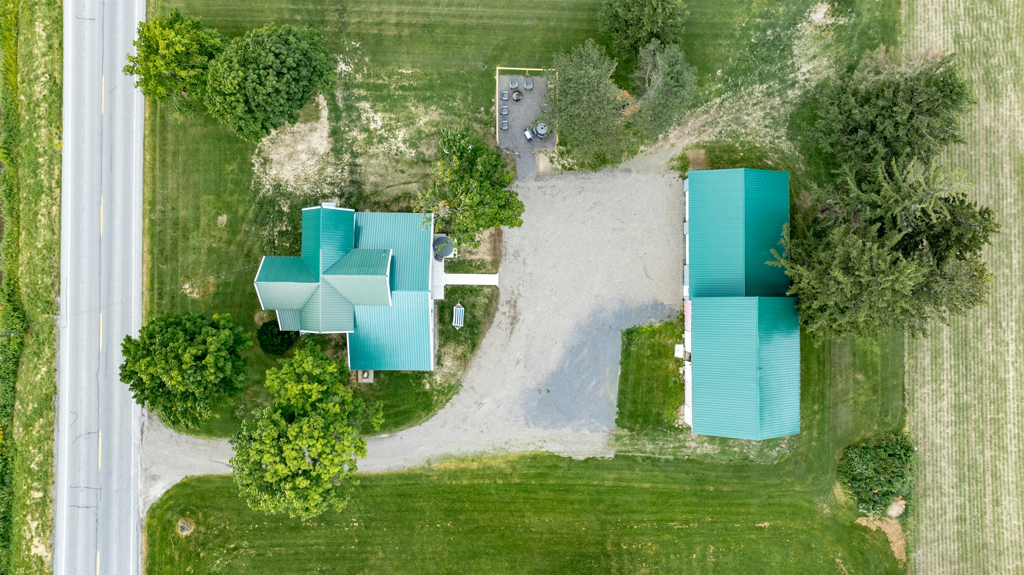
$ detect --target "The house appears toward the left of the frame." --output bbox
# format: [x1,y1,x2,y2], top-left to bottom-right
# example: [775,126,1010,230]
[254,202,434,371]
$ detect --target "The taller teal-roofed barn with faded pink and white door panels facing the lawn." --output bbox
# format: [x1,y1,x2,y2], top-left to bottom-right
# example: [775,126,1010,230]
[684,297,801,441]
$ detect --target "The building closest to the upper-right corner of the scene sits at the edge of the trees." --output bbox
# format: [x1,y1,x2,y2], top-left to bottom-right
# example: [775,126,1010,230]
[684,168,789,299]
